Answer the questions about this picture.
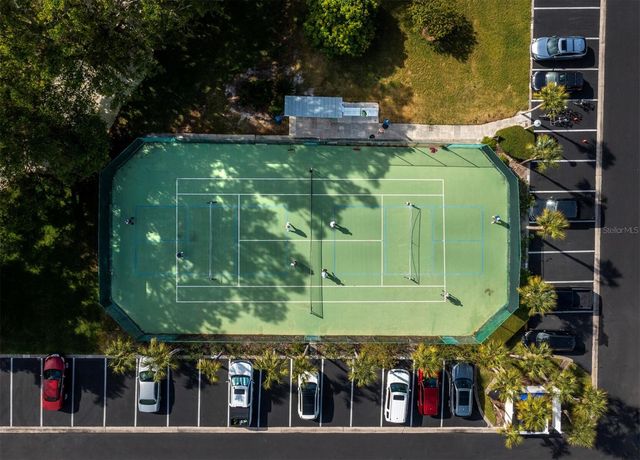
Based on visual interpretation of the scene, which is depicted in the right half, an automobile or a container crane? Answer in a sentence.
You can see an automobile in the right half.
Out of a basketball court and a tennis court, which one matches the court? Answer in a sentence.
The court in the image is a tennis court.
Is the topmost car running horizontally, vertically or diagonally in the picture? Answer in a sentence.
Seen from above, the topmost car lies horizontally.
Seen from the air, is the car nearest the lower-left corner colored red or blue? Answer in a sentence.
From above, the car nearest the lower-left corner appears red.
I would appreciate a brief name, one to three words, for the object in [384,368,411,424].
car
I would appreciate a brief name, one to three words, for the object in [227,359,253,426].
truck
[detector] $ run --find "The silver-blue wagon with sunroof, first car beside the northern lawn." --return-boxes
[529,34,586,61]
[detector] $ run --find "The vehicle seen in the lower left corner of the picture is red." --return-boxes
[39,354,66,409]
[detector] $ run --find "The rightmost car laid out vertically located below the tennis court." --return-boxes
[450,362,476,418]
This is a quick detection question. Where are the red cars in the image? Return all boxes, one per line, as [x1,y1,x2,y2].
[39,354,66,409]
[417,366,441,416]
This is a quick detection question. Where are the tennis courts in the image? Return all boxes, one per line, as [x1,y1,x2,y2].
[112,146,508,335]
